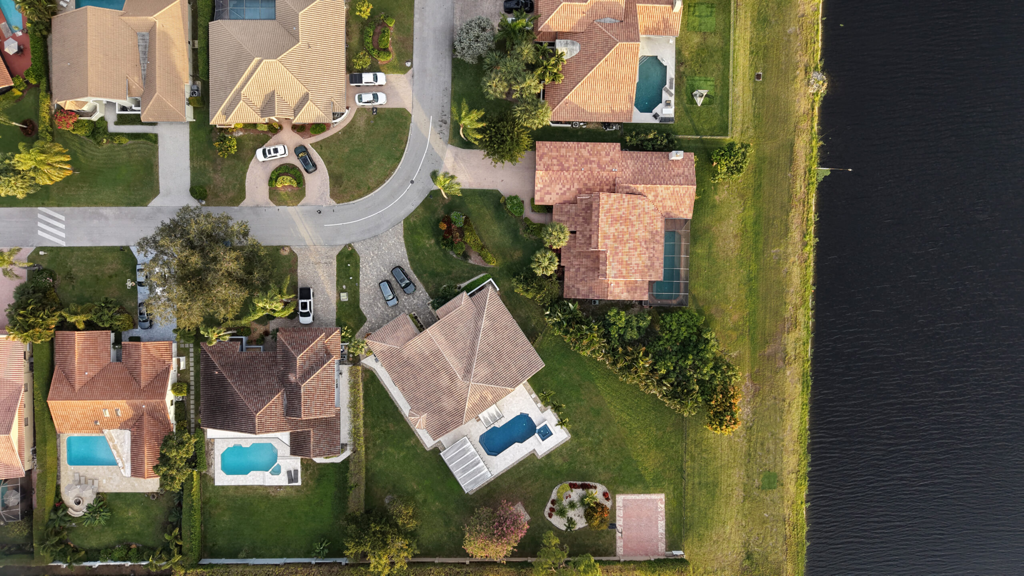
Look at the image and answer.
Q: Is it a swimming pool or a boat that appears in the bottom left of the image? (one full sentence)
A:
You can see a swimming pool in the bottom left of the image.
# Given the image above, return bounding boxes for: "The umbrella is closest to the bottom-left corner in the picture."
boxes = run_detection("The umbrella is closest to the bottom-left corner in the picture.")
[6,490,22,505]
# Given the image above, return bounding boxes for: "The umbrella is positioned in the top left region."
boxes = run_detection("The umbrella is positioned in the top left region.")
[6,40,24,55]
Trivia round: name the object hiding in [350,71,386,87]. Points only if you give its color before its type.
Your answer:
white vehicle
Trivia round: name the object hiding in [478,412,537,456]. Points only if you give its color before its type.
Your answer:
blue swimming pool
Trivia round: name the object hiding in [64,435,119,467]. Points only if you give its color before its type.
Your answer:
blue swimming pool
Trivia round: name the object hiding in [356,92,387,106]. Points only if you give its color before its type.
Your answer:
white car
